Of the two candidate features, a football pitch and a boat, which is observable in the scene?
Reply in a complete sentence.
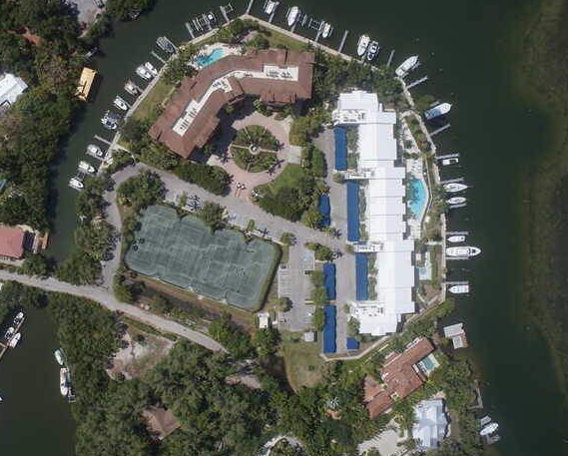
There is a boat in the scene.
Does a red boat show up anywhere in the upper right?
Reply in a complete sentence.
No, no red boat is visible in the upper right.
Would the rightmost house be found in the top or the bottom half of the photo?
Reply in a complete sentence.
The rightmost house sits in the bottom half of the picture.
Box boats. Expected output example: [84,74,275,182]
[266,0,275,13]
[443,158,460,166]
[122,82,137,93]
[78,161,94,170]
[442,183,469,191]
[9,333,20,349]
[289,5,300,26]
[449,286,469,293]
[58,367,66,397]
[393,55,419,77]
[155,36,174,51]
[4,327,14,340]
[143,61,157,74]
[448,236,466,242]
[68,180,83,188]
[111,97,126,109]
[85,144,102,155]
[445,197,467,204]
[422,104,453,121]
[100,116,116,128]
[323,21,331,38]
[446,246,482,256]
[135,68,149,78]
[368,39,379,60]
[358,33,371,55]
[13,313,23,326]
[478,424,499,437]
[207,9,214,23]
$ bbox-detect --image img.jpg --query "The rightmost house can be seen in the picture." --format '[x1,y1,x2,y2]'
[410,397,448,447]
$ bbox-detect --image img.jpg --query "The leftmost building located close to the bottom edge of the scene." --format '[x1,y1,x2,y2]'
[142,405,181,440]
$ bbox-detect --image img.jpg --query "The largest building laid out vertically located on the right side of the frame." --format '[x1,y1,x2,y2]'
[330,90,417,336]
